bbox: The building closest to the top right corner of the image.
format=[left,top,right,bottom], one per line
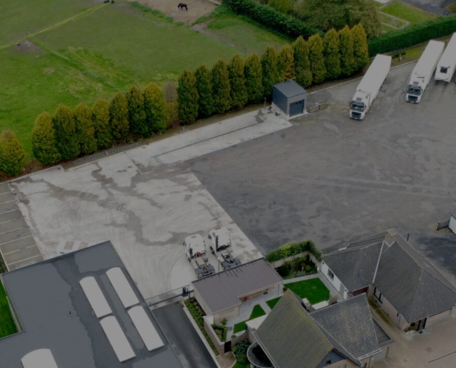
[272,79,309,118]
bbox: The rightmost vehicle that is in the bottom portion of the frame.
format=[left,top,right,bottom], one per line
[207,230,237,271]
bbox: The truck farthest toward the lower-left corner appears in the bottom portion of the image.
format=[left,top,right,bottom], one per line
[185,236,212,279]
